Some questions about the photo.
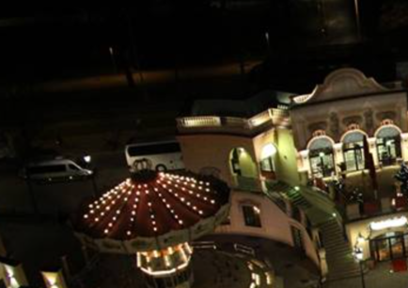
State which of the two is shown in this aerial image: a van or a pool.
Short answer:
van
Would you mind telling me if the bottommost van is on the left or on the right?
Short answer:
left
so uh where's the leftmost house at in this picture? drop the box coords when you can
[159,92,314,276]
